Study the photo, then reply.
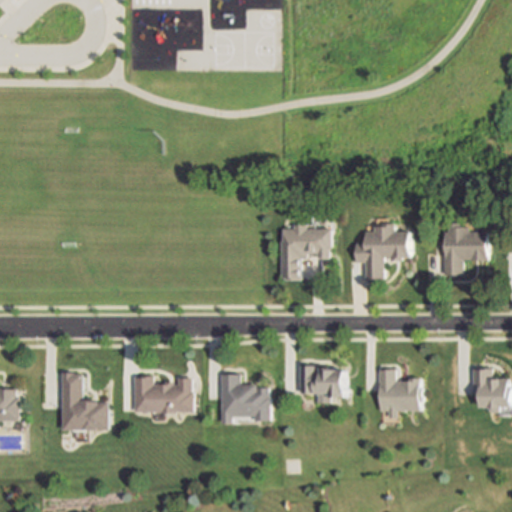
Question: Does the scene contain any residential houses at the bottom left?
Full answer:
Yes, a residential house shows up at the bottom left.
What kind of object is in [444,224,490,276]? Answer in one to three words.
house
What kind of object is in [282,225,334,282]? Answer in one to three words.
house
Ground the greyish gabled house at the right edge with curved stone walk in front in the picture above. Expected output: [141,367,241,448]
[473,368,512,414]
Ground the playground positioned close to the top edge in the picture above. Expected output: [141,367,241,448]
[131,0,282,72]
